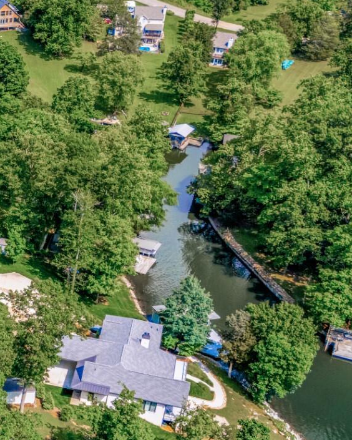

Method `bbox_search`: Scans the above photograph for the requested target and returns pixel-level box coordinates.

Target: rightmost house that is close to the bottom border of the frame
[57,311,187,428]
